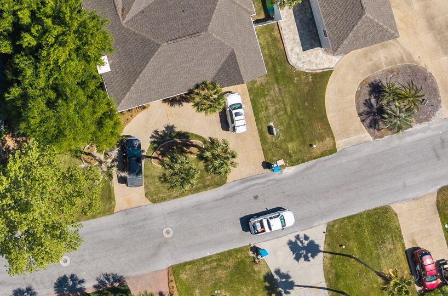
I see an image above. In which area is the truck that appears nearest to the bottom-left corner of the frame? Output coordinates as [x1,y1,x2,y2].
[123,135,145,187]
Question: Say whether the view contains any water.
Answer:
No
